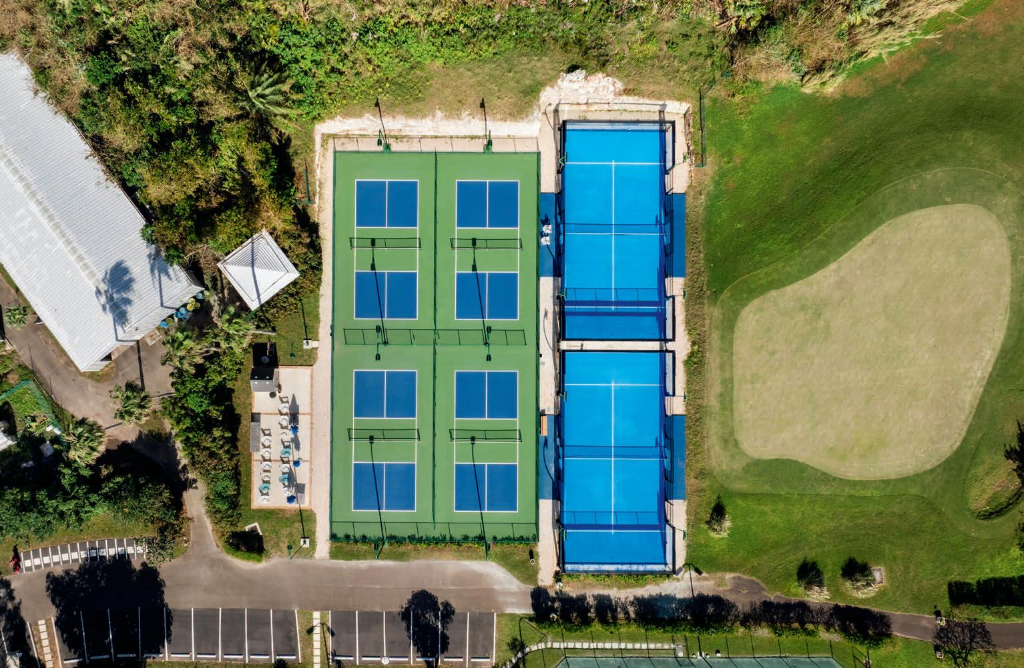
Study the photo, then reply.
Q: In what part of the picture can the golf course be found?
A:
right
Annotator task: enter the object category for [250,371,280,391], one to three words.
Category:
shed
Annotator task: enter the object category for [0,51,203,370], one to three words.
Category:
building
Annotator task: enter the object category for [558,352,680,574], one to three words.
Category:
sports court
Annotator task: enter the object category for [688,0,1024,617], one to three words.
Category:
golf course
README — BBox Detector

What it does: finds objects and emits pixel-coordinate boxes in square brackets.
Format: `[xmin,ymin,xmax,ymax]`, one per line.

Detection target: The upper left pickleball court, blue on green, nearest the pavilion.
[333,150,435,344]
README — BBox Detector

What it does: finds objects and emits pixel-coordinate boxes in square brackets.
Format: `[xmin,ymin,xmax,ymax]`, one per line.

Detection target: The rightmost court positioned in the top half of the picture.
[560,120,681,340]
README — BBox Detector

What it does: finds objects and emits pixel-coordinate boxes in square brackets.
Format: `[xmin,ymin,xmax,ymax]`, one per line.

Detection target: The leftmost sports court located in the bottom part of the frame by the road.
[331,344,434,540]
